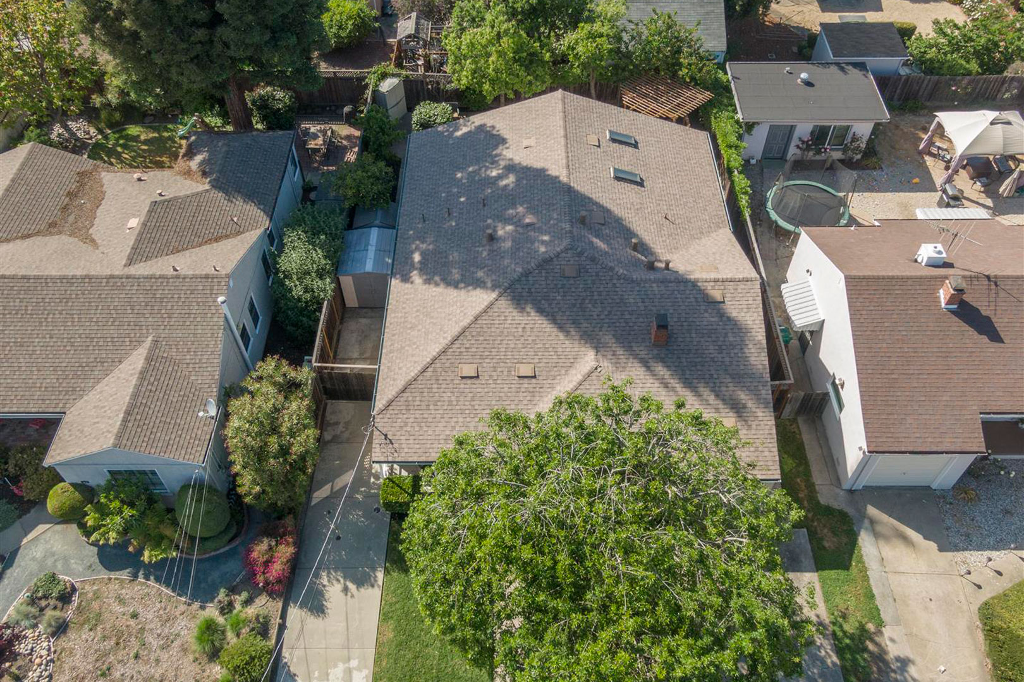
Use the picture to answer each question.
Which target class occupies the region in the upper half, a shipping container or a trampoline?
trampoline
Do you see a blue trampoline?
No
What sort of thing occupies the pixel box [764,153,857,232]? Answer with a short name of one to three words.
trampoline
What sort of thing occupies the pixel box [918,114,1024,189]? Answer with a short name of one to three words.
gazebo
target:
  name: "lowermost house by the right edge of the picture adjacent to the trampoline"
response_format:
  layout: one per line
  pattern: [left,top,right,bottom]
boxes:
[784,218,1024,494]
